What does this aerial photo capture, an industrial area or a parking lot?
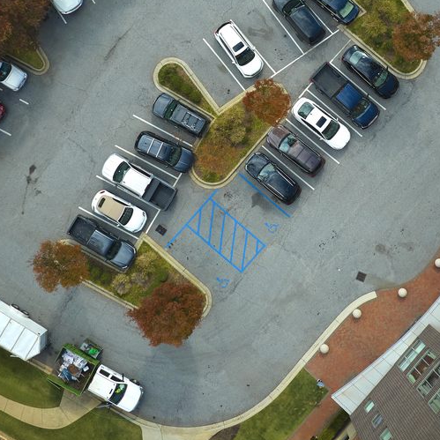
parking lot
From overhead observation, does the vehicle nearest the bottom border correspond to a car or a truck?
truck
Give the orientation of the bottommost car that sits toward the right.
diagonally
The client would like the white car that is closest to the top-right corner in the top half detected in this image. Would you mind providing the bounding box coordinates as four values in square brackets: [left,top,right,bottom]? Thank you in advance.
[291,96,350,150]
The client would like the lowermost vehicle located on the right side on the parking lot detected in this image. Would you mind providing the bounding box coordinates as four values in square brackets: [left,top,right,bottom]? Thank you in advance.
[246,152,298,208]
